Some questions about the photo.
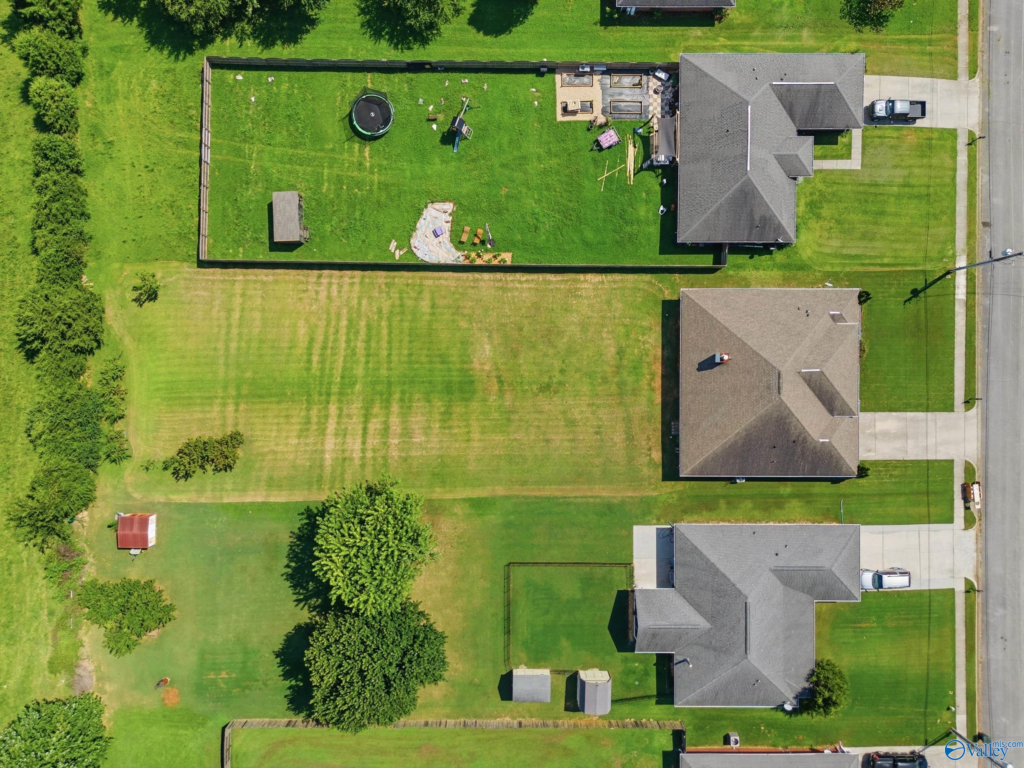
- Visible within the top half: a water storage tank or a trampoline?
trampoline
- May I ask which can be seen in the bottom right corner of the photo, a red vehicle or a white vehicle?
white vehicle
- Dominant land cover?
grass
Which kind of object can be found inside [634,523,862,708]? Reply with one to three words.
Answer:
house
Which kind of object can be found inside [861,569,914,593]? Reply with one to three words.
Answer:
car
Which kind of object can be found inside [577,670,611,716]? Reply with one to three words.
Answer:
shed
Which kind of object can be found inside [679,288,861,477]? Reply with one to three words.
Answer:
house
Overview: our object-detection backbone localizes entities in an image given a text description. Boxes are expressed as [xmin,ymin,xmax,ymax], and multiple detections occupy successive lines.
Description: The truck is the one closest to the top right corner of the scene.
[871,95,928,123]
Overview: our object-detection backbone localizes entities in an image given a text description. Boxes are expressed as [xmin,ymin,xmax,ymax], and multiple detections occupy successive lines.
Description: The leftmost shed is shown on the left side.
[117,513,157,548]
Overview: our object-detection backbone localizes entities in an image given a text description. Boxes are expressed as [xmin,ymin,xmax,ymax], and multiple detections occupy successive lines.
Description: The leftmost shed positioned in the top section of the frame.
[273,191,304,243]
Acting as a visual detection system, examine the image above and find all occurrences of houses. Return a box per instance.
[676,53,866,243]
[679,288,861,477]
[679,749,859,768]
[615,0,736,12]
[634,523,862,708]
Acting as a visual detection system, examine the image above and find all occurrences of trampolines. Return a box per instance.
[342,83,396,138]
